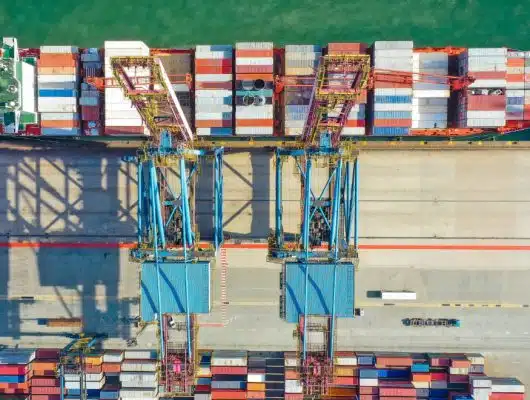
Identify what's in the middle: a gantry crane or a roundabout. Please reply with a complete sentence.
It is a gantry crane that can be seen in the middle.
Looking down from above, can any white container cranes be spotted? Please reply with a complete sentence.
No, I find no white container crane anywhere in the image.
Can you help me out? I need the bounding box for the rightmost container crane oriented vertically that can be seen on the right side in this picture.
[267,57,374,397]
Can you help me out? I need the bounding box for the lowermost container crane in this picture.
[57,340,104,400]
